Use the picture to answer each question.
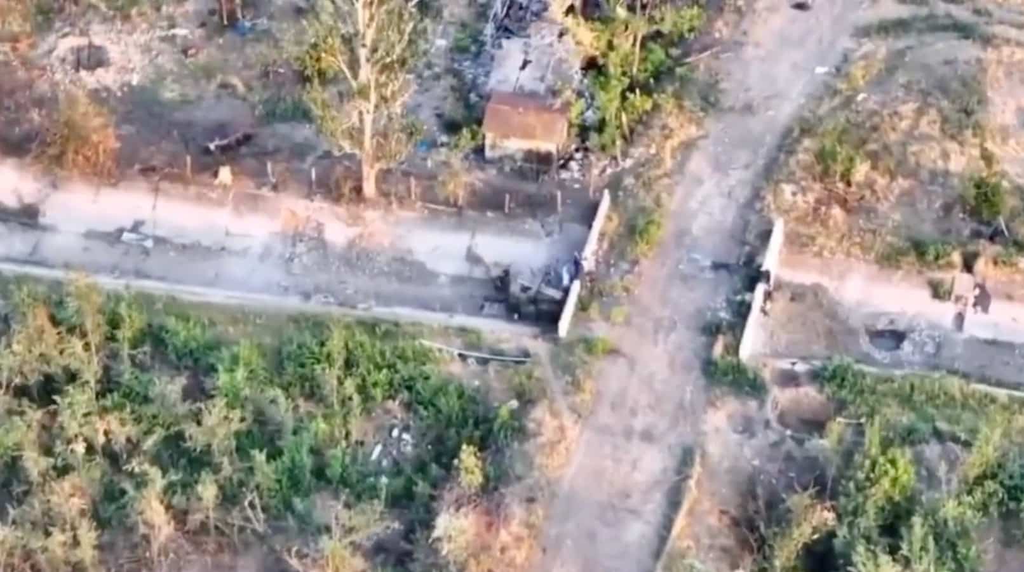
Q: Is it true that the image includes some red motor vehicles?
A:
No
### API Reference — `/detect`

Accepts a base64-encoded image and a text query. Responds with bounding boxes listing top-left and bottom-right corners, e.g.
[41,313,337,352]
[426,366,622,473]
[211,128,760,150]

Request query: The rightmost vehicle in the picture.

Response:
[472,259,573,326]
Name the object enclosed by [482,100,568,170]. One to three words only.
shed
